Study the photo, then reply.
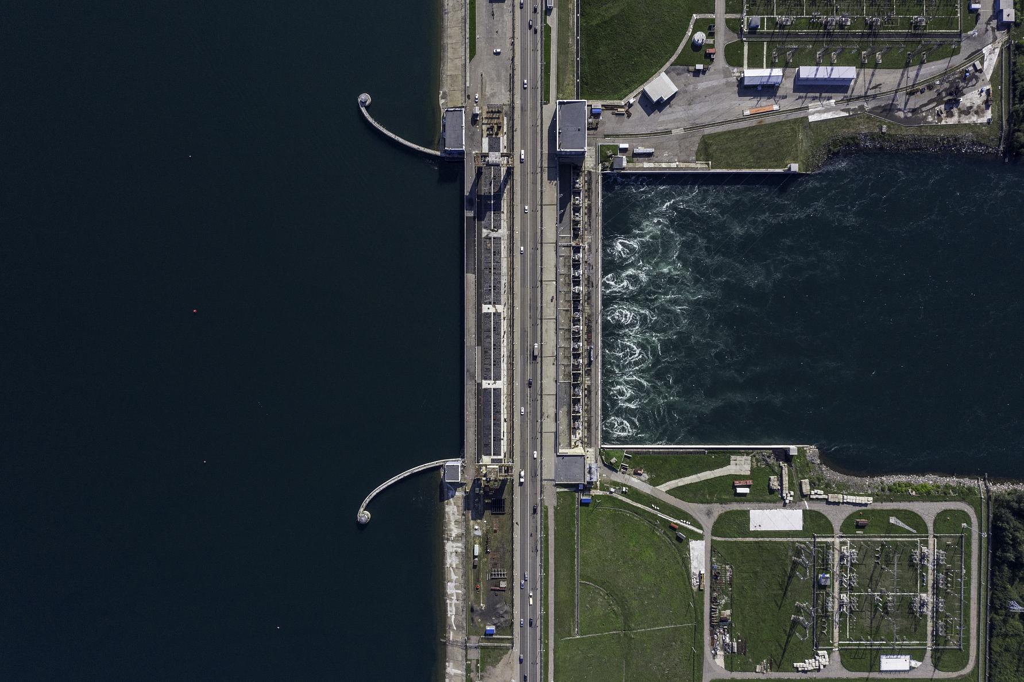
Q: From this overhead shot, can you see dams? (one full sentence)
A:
Yes, a dam appears in the view.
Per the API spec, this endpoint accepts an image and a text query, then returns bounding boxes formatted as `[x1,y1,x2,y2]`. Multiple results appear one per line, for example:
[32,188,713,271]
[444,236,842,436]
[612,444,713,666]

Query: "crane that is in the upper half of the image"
[476,151,513,176]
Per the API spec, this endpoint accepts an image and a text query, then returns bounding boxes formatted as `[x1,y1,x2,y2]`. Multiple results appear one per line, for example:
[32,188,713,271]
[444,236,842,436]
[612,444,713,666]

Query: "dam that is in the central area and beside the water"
[463,103,602,488]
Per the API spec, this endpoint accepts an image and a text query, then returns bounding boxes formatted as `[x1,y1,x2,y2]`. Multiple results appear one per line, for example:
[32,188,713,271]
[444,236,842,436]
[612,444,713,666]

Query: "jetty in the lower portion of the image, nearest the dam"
[358,458,461,524]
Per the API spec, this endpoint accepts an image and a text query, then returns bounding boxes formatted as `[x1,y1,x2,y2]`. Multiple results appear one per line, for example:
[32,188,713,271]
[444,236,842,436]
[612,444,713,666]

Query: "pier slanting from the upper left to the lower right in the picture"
[358,93,444,157]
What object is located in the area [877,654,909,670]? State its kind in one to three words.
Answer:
house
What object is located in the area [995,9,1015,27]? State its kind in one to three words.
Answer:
building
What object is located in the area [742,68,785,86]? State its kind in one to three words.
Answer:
shed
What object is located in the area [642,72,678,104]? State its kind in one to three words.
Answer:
building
